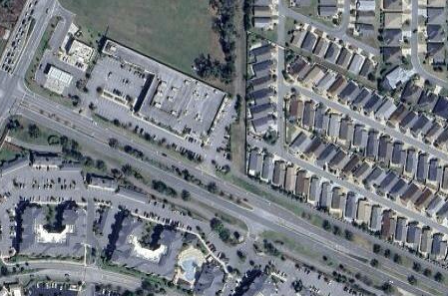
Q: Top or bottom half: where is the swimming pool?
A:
bottom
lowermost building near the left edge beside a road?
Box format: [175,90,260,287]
[18,207,87,257]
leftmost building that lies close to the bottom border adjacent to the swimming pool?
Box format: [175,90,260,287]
[108,217,183,282]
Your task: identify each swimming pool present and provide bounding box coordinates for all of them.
[177,247,203,287]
